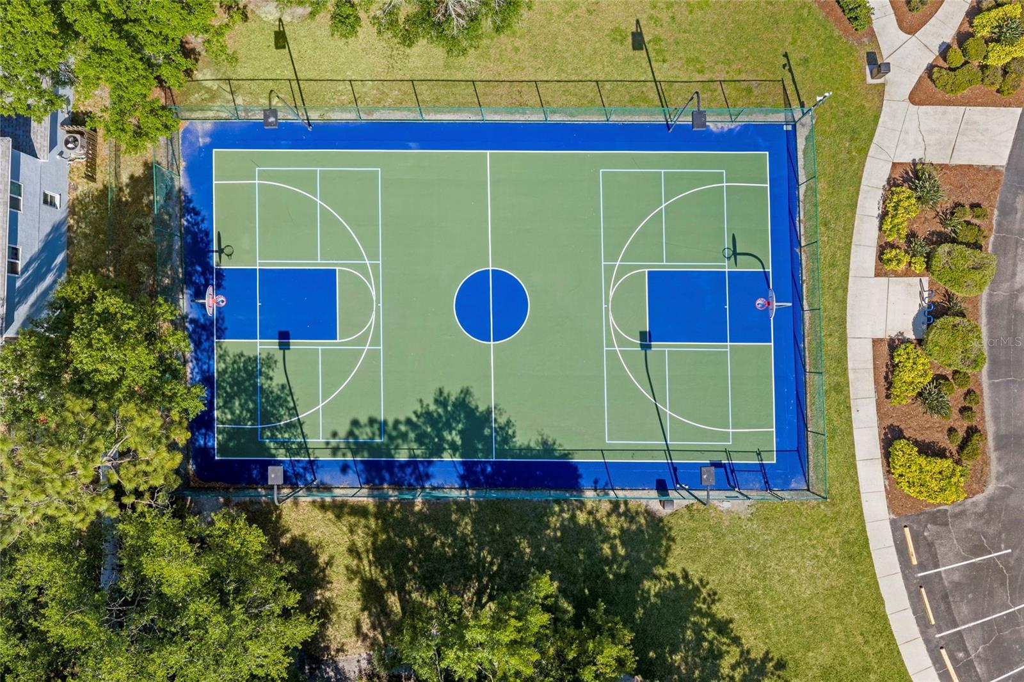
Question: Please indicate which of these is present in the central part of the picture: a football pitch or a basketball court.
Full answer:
Looking in the central part of the picture, you will find a basketball court.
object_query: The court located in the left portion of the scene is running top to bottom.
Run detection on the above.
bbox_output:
[256,168,383,441]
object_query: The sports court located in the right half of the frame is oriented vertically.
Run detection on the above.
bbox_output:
[600,169,731,444]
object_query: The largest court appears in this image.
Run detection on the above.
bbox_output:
[182,122,809,490]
